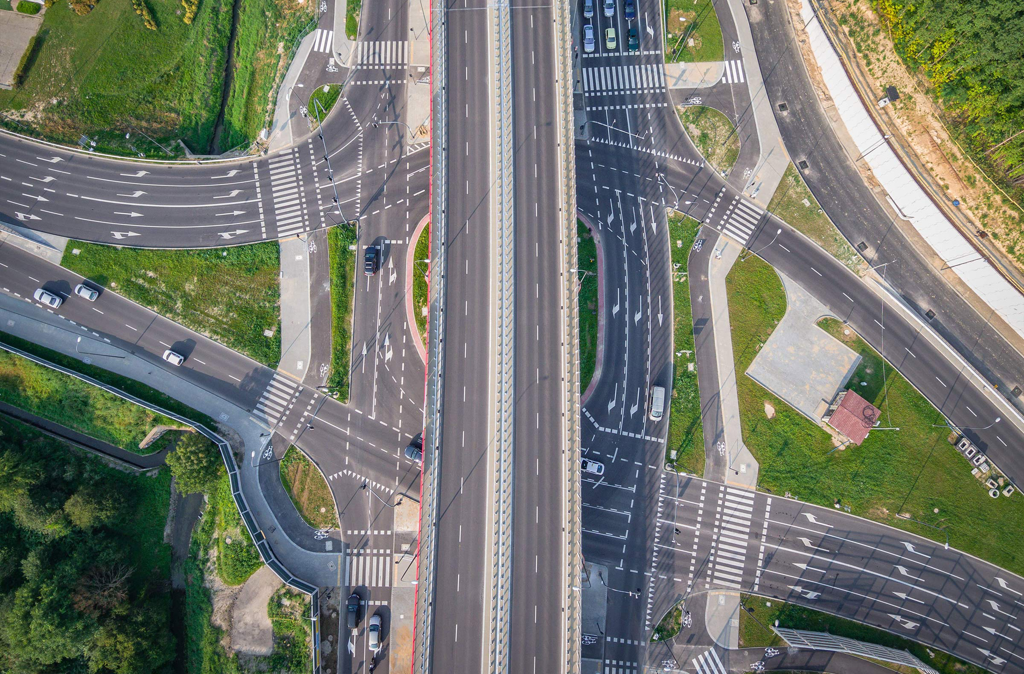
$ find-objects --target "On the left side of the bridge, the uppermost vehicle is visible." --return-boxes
[363,247,378,277]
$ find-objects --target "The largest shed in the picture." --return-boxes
[822,389,881,445]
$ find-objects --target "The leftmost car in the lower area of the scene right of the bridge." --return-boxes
[582,458,605,475]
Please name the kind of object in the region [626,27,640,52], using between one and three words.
car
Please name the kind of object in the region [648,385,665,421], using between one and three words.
vehicle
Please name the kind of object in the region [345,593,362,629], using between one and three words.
car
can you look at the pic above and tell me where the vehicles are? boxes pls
[582,0,595,20]
[626,27,640,52]
[582,458,605,475]
[623,0,636,22]
[603,0,616,18]
[345,593,362,629]
[405,445,422,462]
[75,285,100,301]
[34,289,64,309]
[363,247,378,277]
[648,385,665,421]
[582,25,596,54]
[163,350,186,367]
[604,27,618,50]
[367,614,383,650]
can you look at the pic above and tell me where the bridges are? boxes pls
[411,0,583,674]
